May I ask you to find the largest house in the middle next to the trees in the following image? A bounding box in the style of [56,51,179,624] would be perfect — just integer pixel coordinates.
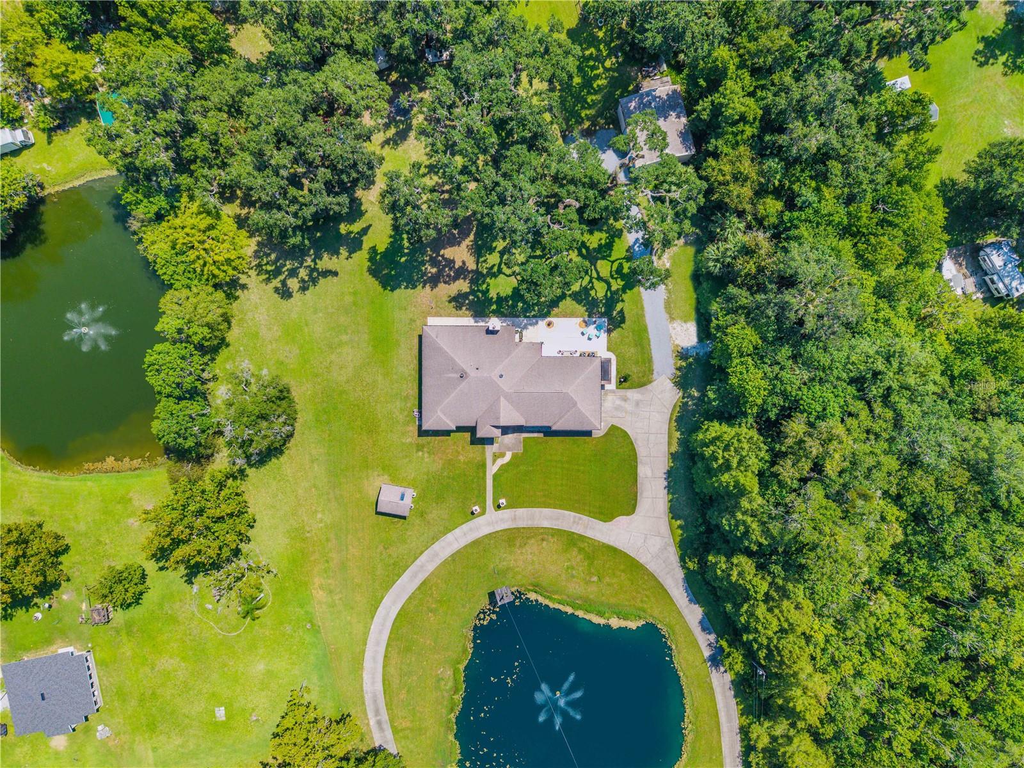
[422,324,602,438]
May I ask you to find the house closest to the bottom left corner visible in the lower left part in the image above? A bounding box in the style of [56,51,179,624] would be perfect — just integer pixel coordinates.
[0,646,106,737]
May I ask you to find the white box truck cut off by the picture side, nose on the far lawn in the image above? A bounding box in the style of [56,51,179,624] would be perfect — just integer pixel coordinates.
[0,128,42,156]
